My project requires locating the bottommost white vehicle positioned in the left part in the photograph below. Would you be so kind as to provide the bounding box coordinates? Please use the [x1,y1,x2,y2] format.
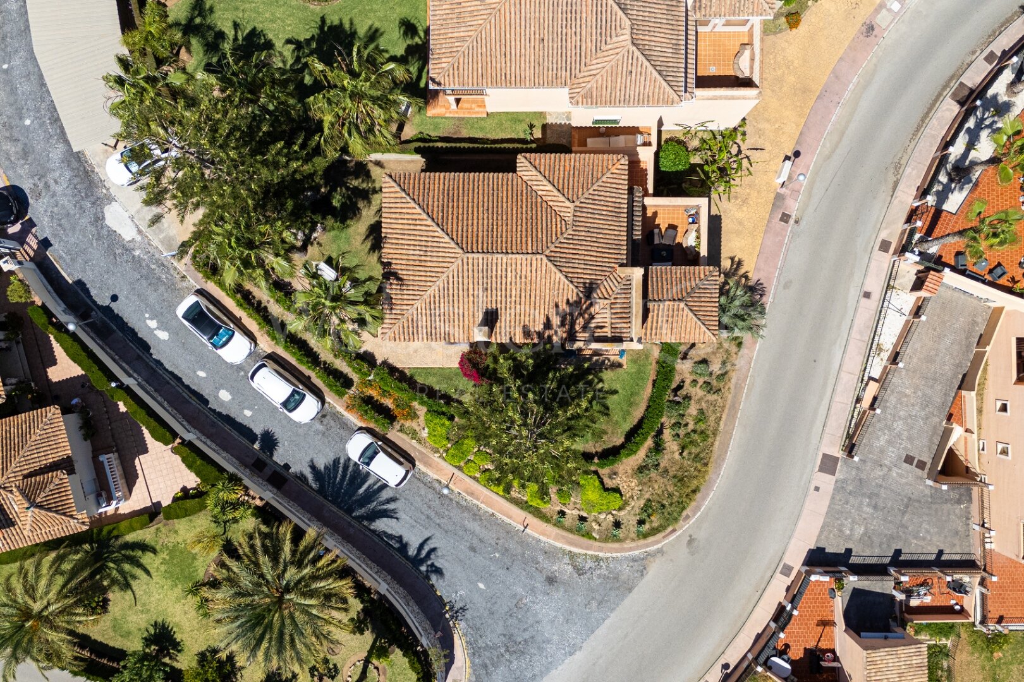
[344,427,418,491]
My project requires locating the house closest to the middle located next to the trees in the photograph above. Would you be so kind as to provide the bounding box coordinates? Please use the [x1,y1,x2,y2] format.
[379,150,722,355]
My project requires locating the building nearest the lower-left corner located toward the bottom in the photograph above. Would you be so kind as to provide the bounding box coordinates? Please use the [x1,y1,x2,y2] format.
[0,404,137,550]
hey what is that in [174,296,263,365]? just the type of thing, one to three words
car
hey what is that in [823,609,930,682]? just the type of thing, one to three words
building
